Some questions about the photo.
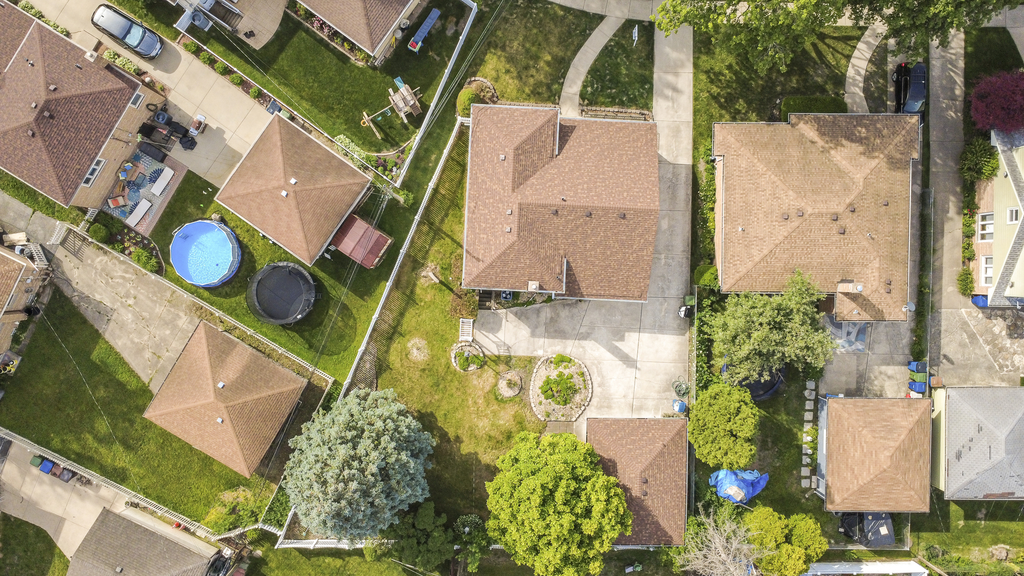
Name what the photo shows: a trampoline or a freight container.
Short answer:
trampoline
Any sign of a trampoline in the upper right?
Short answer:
No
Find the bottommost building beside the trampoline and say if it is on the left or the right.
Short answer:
left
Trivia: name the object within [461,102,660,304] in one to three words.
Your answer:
house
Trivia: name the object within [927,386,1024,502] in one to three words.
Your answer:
building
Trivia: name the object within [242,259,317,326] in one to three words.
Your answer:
trampoline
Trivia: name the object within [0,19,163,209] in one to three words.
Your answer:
house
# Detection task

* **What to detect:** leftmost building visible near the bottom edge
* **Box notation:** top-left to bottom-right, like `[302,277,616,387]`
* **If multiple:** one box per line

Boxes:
[53,499,223,576]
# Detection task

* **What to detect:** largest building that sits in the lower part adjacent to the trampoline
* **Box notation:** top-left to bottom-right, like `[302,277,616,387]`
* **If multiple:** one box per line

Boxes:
[141,318,312,480]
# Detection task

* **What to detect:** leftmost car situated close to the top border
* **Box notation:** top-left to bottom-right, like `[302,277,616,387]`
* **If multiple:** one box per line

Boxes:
[87,3,169,67]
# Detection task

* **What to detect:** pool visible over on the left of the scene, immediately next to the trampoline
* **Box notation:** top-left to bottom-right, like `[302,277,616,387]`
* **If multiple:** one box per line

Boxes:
[171,219,243,287]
